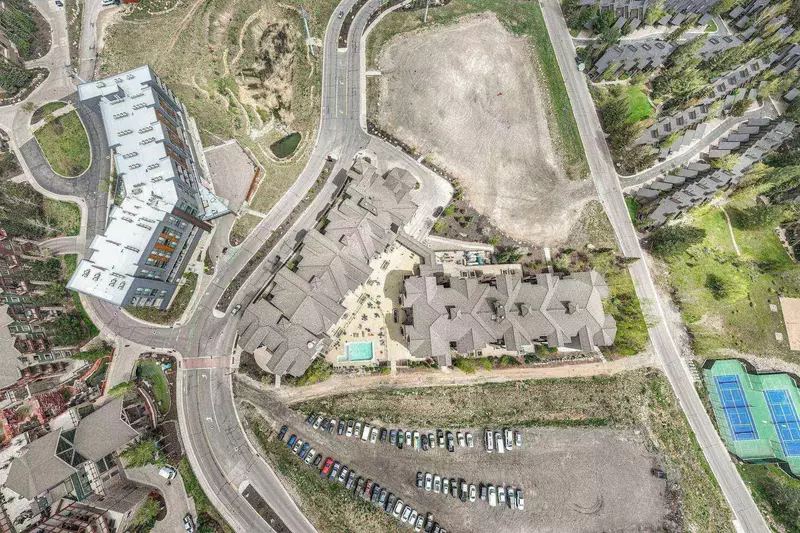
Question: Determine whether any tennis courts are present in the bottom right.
Yes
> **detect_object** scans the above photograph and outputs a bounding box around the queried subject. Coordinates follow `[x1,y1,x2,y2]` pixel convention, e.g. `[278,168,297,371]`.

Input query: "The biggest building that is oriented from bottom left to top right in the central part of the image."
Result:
[230,156,419,385]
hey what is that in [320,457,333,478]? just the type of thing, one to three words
vehicle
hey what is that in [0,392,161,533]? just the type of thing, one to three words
building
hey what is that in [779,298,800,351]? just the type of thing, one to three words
sports court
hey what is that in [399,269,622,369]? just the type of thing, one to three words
building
